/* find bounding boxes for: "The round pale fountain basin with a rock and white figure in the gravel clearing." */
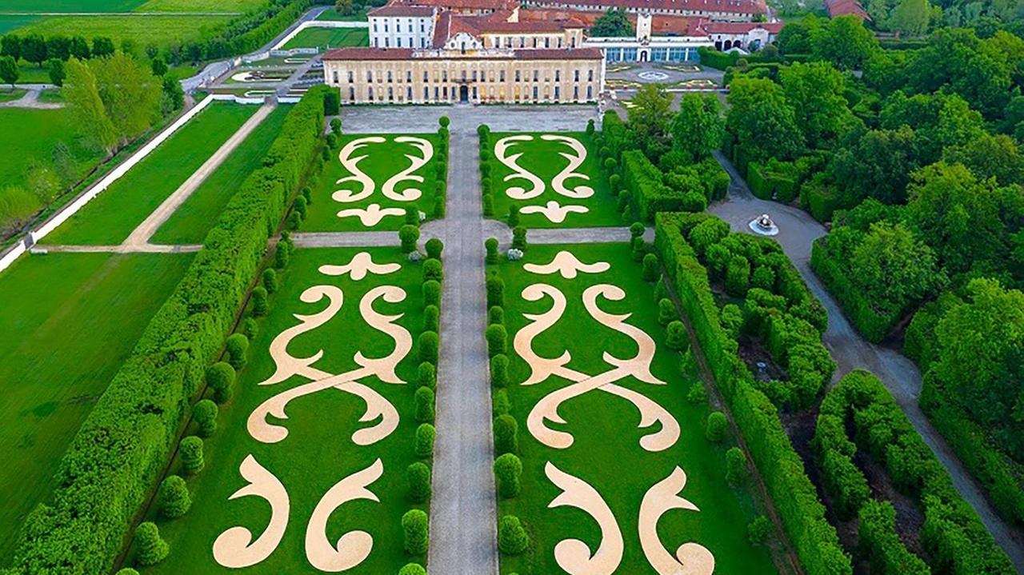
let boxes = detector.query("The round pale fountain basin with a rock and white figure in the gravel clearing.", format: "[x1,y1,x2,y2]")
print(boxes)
[748,212,780,233]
